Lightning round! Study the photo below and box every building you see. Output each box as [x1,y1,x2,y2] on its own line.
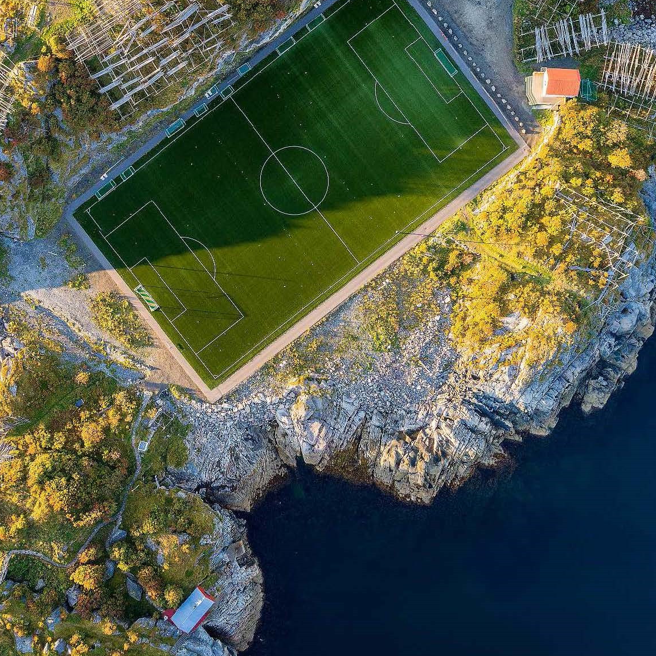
[168,583,214,630]
[526,68,582,109]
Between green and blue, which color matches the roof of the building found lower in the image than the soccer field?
blue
